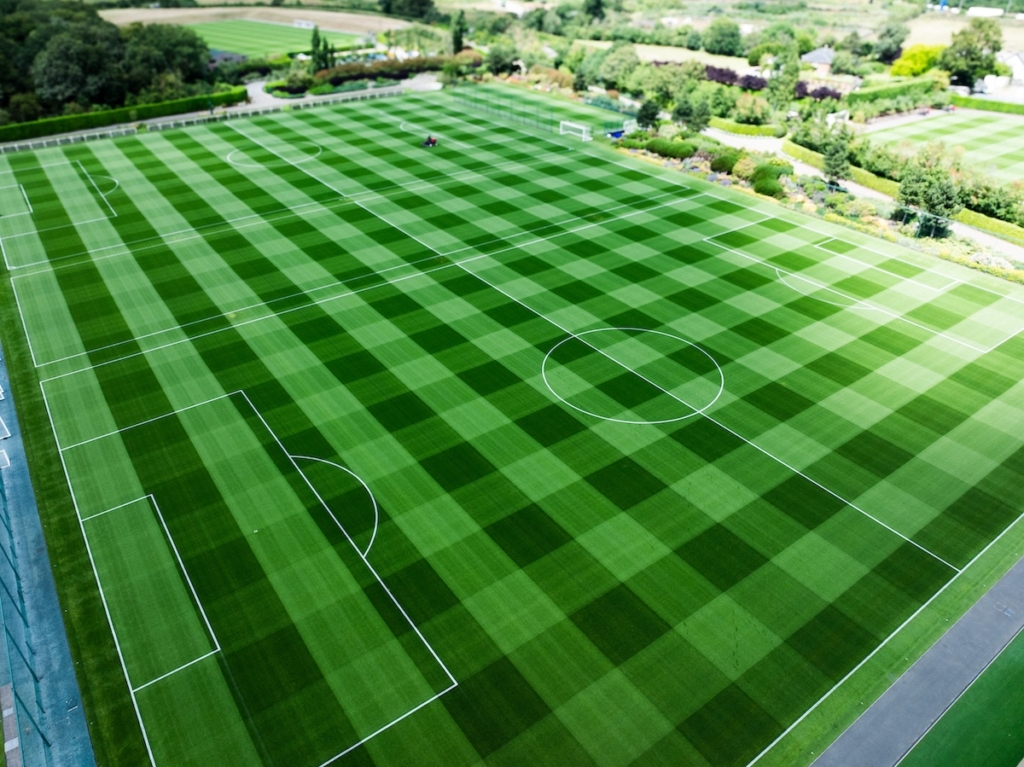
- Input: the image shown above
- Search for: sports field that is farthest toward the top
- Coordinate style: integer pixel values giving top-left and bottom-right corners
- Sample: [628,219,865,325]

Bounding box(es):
[179,20,377,68]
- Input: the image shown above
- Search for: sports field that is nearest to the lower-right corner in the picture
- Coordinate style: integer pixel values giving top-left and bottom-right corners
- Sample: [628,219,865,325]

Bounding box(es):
[902,633,1024,767]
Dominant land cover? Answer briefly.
grass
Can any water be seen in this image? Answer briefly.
No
